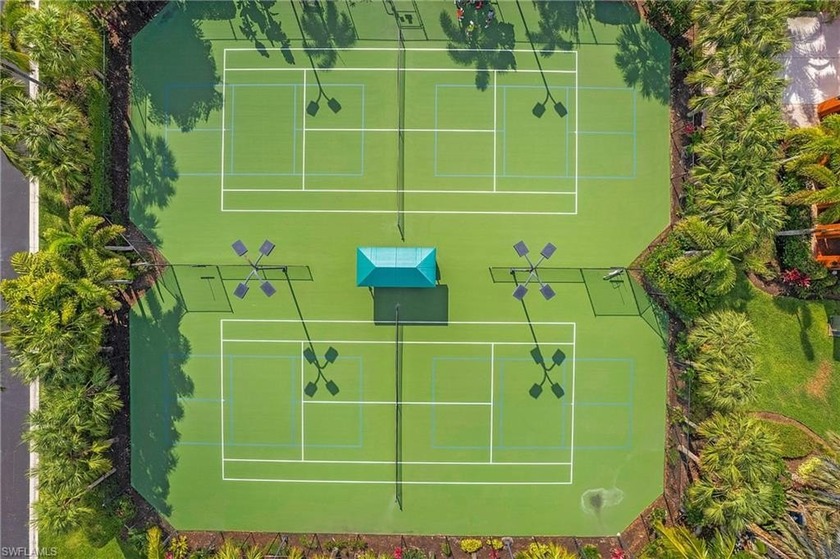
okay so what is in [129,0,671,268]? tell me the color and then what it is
green tennis court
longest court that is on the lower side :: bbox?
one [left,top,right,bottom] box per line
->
[130,264,668,534]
